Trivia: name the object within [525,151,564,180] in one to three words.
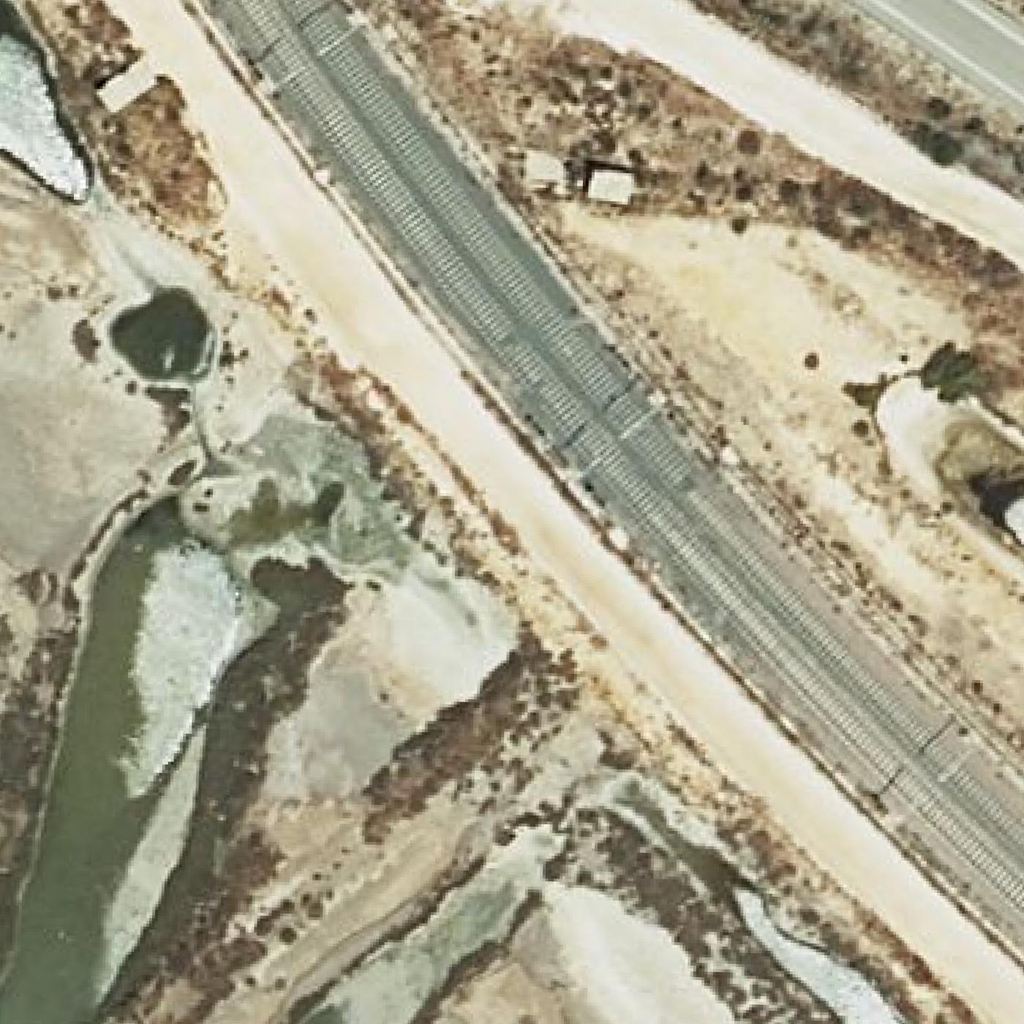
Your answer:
shed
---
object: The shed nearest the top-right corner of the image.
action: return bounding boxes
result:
[588,170,634,204]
